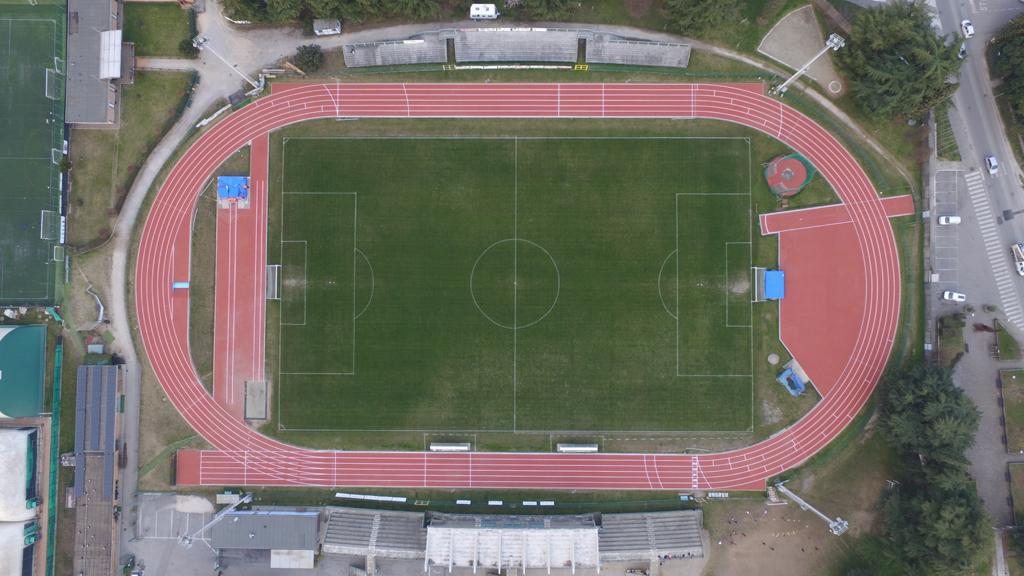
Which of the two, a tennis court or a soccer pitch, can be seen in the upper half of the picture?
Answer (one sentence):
The one visible in the upper half of the picture is a soccer pitch.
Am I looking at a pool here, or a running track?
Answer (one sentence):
This aerial view contains a running track.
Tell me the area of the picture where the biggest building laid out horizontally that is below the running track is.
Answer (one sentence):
The biggest building laid out horizontally that is below the running track is located in the bottom left region of the scene.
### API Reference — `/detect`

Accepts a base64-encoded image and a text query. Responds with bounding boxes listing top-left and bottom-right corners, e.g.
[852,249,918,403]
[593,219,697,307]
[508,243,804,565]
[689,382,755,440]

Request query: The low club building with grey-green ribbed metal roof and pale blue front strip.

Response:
[212,508,323,548]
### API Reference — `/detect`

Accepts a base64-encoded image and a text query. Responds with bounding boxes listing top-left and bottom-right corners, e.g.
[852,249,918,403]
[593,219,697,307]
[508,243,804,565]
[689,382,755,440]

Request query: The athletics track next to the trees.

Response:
[135,83,901,491]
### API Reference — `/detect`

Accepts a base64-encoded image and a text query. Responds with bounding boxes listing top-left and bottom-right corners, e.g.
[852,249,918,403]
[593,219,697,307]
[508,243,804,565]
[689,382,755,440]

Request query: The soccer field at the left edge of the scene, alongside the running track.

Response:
[0,8,69,305]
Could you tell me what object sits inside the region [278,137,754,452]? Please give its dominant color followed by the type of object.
green soccer field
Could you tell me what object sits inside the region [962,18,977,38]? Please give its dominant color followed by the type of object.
white car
